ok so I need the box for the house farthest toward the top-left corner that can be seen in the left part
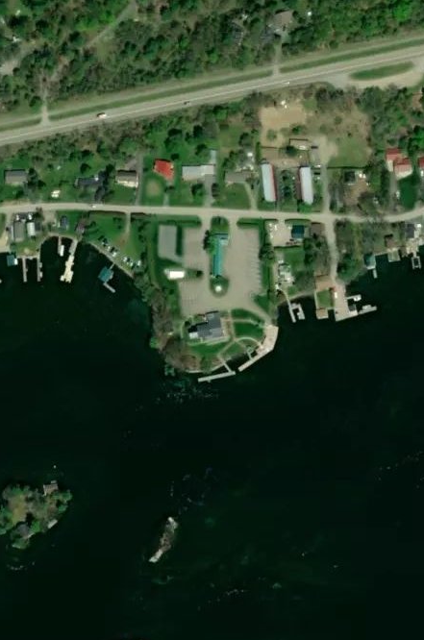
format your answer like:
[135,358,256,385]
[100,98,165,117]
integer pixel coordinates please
[5,170,27,186]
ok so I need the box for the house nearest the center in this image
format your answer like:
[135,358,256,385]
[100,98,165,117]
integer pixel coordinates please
[188,312,222,339]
